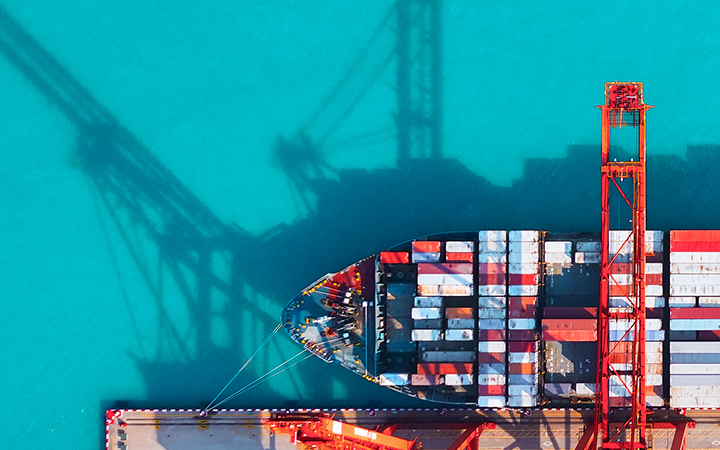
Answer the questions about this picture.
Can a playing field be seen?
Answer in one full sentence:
No, no playing field can be seen from above.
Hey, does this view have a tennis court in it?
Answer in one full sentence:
No, the scene contains no tennis court.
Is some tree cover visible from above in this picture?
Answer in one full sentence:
No, there is no tree cover in the image.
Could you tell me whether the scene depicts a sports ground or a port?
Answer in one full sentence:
This image shows a port.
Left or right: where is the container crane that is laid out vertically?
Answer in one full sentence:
The container crane that is laid out vertically sits on the right side.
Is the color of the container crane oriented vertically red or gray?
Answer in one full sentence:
The container crane oriented vertically looks red in the image.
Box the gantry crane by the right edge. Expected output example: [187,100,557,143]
[567,78,699,450]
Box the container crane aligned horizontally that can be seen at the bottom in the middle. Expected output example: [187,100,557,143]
[256,413,494,450]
